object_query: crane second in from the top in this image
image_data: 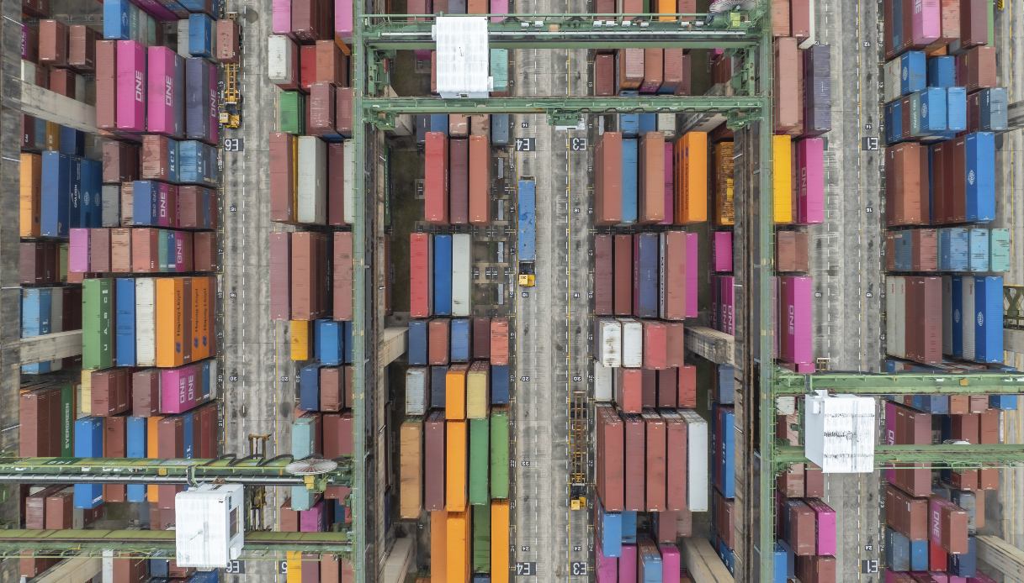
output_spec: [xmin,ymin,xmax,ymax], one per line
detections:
[767,364,1024,474]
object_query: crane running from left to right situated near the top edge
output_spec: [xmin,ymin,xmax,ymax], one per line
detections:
[356,0,768,139]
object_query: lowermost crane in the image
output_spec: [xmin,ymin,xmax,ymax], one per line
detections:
[0,447,359,567]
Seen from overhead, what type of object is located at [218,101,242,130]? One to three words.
truck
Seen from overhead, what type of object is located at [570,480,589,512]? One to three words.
vehicle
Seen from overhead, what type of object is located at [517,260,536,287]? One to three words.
vehicle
